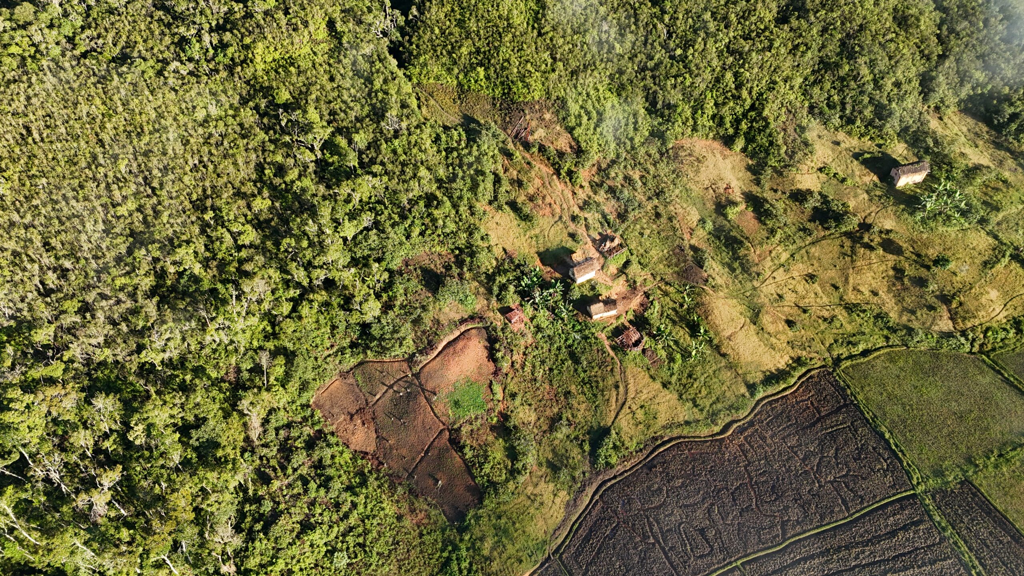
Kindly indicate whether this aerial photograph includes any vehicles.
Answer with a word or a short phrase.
No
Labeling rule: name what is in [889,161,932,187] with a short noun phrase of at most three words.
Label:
shed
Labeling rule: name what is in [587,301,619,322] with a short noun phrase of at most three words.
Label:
shed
